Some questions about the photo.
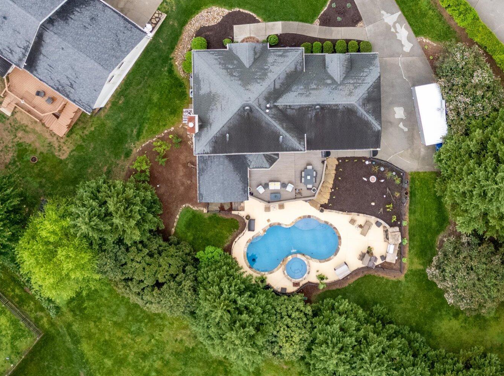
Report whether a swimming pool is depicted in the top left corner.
No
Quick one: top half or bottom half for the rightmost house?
top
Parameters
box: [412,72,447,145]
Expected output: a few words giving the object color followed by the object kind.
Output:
white trailer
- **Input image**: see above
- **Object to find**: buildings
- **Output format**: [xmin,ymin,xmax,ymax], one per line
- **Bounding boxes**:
[187,42,382,203]
[0,0,153,114]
